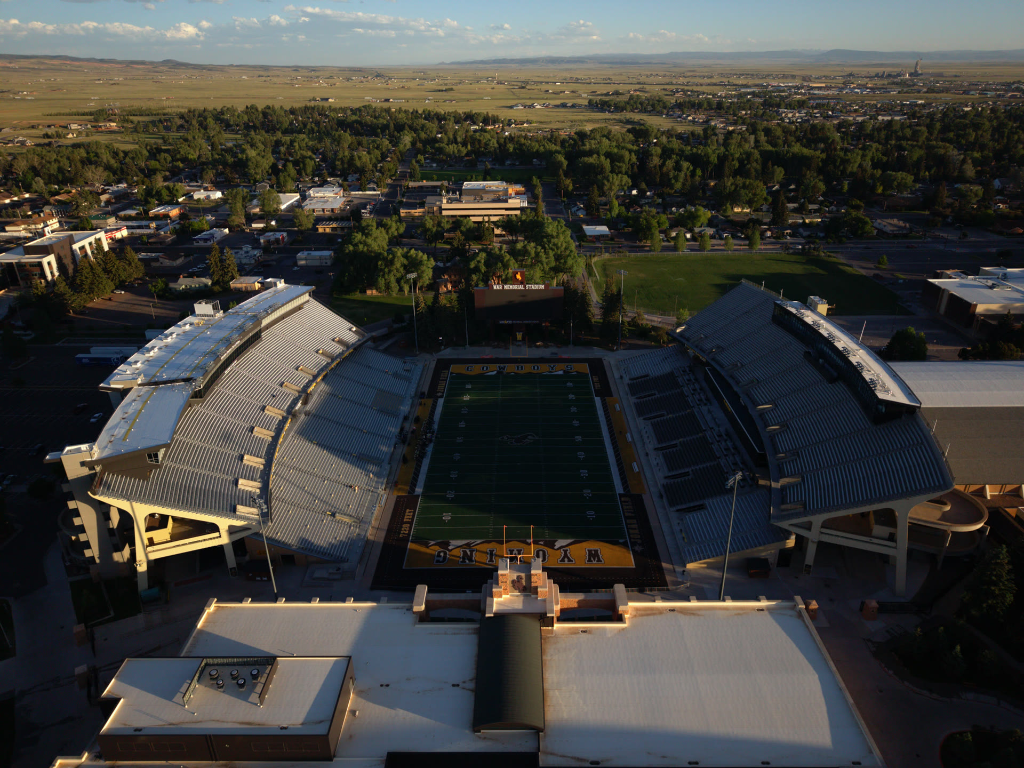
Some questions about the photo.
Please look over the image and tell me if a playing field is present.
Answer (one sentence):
Yes, looking at the shot, I can spot a playing field.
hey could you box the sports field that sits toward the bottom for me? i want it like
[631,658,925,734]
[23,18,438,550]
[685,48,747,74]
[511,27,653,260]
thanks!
[379,363,660,584]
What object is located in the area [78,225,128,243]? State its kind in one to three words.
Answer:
building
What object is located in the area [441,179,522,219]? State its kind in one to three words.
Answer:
building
